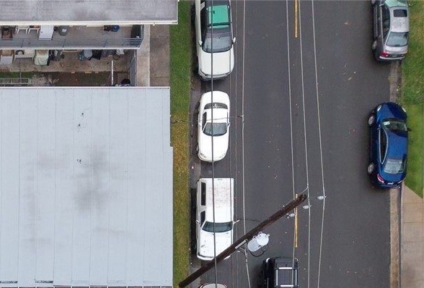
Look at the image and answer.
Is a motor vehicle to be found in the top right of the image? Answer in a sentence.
Yes, I can see a motor vehicle in the top right of the image.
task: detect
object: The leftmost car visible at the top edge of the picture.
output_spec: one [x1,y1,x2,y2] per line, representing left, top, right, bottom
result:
[194,0,237,82]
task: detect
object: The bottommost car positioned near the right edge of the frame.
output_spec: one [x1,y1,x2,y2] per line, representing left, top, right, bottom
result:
[366,103,410,190]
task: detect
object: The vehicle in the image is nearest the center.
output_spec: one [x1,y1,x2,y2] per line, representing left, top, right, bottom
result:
[194,89,232,166]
